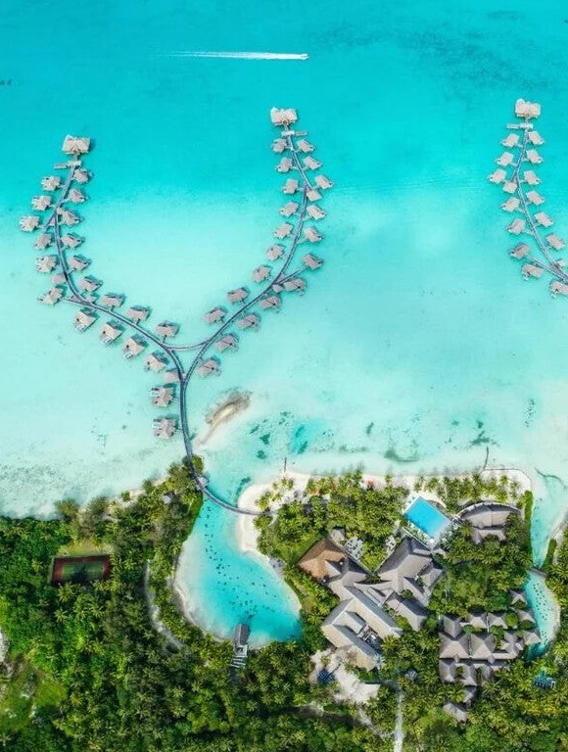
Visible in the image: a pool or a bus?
pool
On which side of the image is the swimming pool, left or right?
right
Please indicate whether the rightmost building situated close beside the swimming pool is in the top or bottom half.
bottom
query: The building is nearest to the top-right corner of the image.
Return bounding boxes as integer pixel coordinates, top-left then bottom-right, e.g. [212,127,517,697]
[513,97,541,120]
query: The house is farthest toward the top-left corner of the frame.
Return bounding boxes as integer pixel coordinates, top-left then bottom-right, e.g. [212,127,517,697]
[62,133,91,155]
